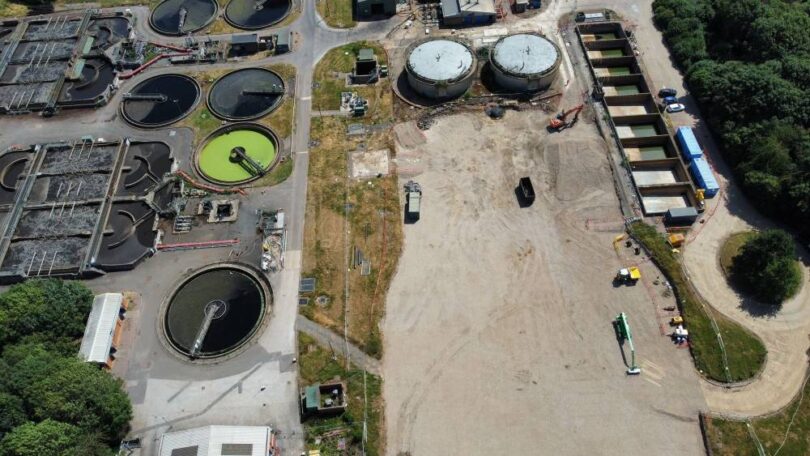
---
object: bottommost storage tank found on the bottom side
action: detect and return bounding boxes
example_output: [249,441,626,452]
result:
[158,262,271,362]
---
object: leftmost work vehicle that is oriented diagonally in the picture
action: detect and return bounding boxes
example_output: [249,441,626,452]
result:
[545,107,580,133]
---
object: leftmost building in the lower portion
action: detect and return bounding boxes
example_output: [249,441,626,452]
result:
[79,292,127,369]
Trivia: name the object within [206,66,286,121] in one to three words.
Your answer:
storage tank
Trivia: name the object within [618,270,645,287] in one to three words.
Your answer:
vehicle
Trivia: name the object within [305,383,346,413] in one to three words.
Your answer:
shed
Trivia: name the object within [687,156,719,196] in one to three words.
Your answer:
shipping container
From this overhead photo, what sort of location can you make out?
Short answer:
industrial area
